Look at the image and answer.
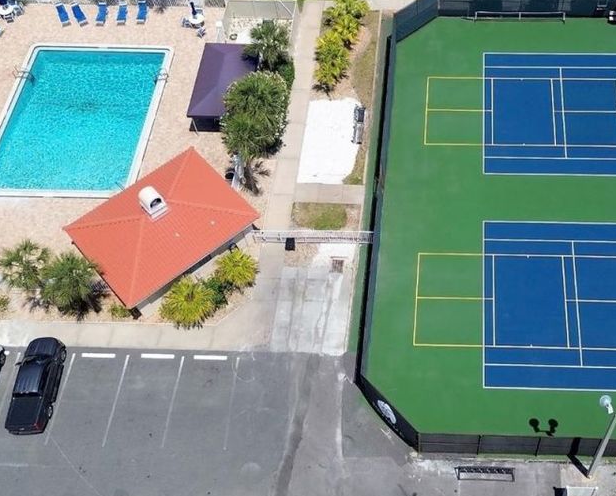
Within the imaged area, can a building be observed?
Yes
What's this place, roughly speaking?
sports ground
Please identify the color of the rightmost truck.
black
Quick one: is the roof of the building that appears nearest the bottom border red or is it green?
red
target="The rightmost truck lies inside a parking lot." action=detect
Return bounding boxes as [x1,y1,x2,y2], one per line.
[4,335,68,435]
